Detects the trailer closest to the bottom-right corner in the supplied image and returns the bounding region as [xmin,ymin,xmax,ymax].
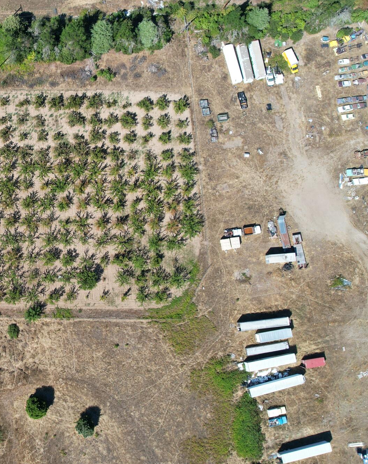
[274,439,332,464]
